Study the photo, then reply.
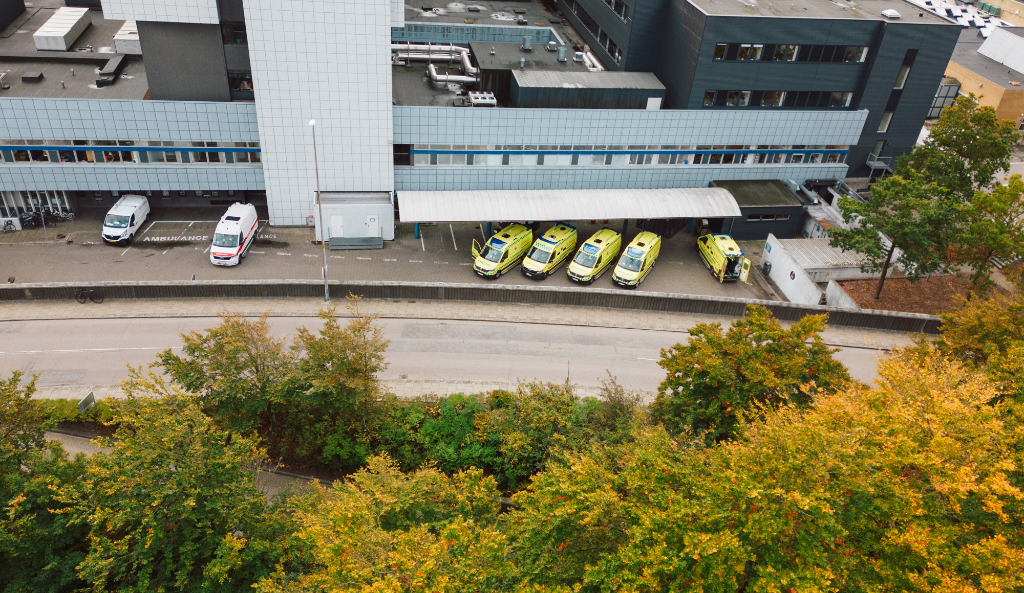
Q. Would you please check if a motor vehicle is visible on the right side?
Yes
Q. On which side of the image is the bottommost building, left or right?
right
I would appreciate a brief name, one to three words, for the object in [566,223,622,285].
van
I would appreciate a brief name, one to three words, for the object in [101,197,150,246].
van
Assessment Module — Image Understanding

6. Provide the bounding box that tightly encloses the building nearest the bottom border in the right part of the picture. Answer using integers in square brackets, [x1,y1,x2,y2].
[777,237,901,285]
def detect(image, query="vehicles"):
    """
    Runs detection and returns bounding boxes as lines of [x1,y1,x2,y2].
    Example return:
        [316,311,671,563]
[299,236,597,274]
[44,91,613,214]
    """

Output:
[101,197,150,246]
[612,227,663,289]
[211,201,260,267]
[520,219,580,281]
[695,234,758,283]
[566,223,622,285]
[472,220,534,280]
